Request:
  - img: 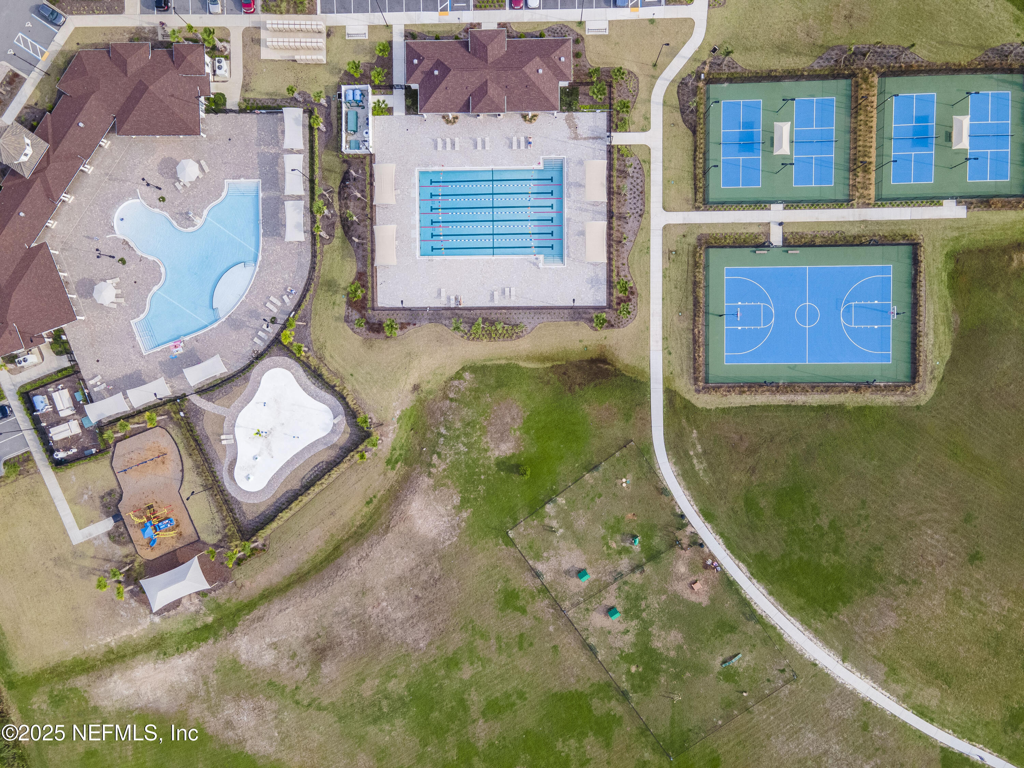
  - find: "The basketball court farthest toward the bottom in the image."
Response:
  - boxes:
[705,245,913,383]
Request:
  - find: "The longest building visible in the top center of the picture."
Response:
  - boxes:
[404,28,573,118]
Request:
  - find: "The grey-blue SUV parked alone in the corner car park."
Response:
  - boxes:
[32,1,63,25]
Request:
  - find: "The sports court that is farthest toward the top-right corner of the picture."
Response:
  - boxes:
[875,74,1024,201]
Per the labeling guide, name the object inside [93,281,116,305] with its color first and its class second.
white umbrella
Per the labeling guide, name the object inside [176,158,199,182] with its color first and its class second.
white umbrella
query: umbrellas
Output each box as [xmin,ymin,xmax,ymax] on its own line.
[176,158,199,182]
[93,281,116,305]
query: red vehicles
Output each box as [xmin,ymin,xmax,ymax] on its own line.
[239,0,255,12]
[511,0,523,7]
